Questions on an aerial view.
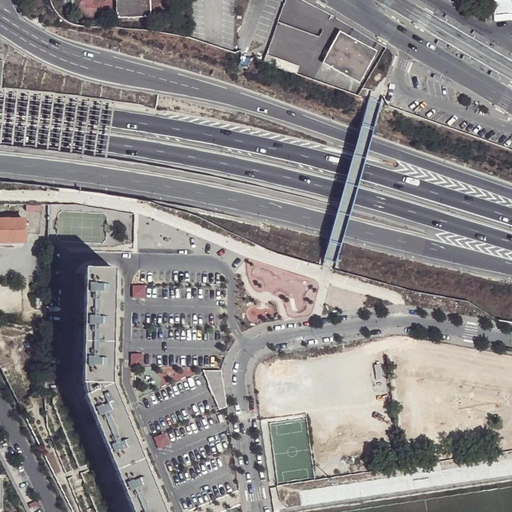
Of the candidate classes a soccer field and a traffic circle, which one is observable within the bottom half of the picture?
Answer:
soccer field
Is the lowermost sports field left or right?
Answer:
right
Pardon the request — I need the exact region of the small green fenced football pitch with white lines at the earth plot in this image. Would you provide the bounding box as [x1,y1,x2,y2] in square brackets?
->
[260,414,316,488]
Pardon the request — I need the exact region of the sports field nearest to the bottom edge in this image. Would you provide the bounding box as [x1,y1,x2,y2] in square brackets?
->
[286,460,512,512]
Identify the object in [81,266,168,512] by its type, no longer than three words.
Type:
building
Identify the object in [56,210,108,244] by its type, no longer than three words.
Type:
sports court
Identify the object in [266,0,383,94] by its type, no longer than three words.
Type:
building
